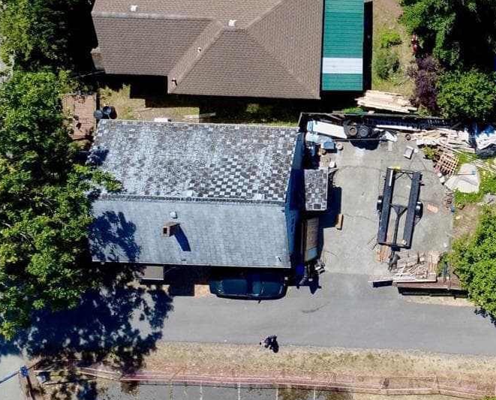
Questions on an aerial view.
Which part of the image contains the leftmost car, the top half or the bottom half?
bottom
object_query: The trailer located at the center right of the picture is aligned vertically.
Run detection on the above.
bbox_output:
[375,168,423,269]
